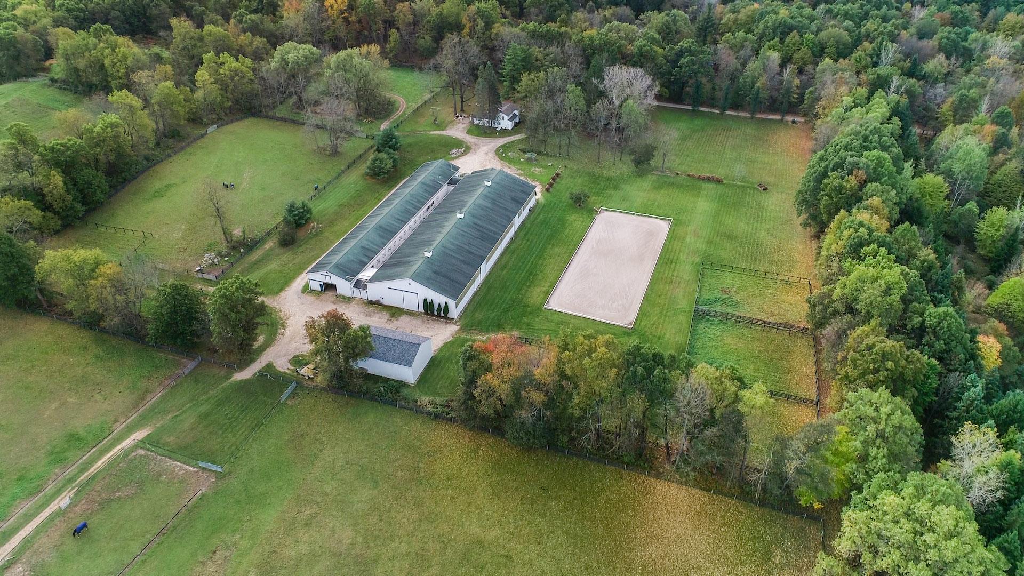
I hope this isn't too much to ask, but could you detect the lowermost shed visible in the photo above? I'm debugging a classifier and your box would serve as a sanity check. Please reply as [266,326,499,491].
[353,324,433,384]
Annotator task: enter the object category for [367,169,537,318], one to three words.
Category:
barn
